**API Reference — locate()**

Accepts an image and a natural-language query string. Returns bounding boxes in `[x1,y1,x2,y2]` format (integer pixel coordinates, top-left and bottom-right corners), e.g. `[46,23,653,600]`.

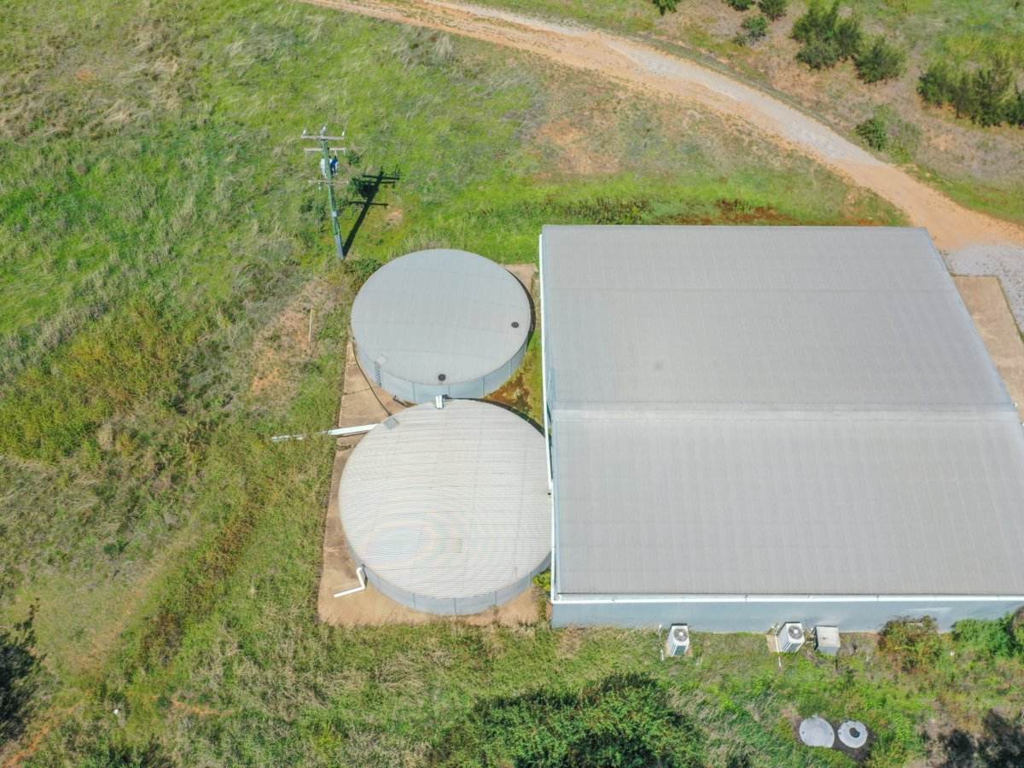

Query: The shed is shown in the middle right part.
[538,225,1024,631]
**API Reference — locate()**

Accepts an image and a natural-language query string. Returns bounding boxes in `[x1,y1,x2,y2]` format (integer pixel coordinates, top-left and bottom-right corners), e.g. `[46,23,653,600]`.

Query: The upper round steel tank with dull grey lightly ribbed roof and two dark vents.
[351,249,531,409]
